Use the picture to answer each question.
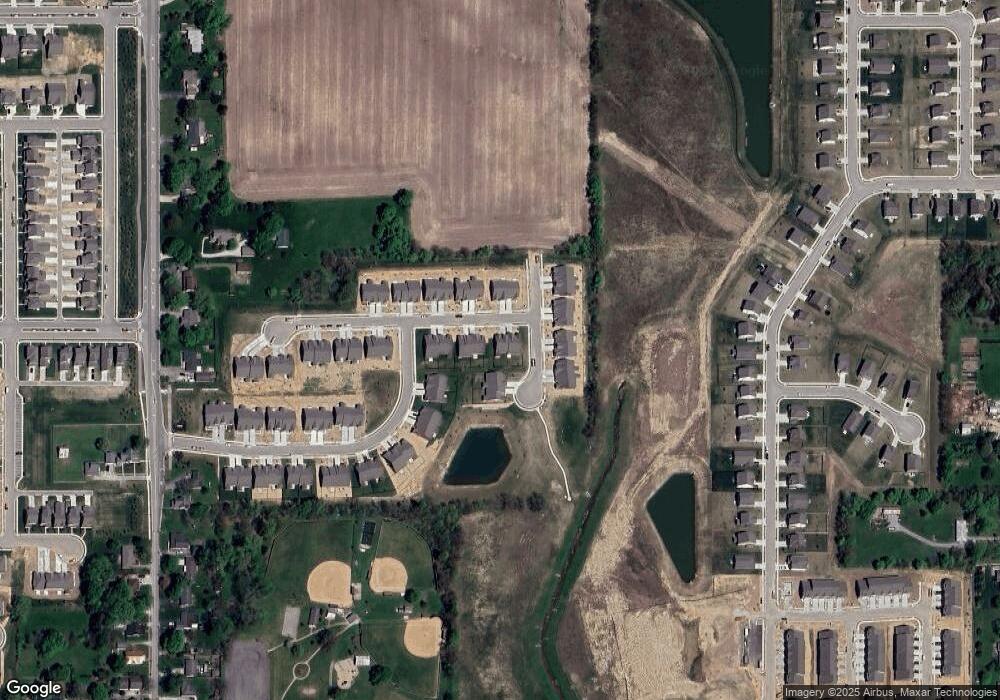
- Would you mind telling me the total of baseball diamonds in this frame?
3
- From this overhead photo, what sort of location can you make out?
residential area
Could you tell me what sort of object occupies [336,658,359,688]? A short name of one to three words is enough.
playground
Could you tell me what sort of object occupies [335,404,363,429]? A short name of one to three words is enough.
house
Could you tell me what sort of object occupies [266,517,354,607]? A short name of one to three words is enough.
baseball field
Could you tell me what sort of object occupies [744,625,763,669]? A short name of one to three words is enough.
building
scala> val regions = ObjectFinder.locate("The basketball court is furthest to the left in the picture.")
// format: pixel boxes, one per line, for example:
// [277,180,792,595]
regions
[282,606,299,638]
